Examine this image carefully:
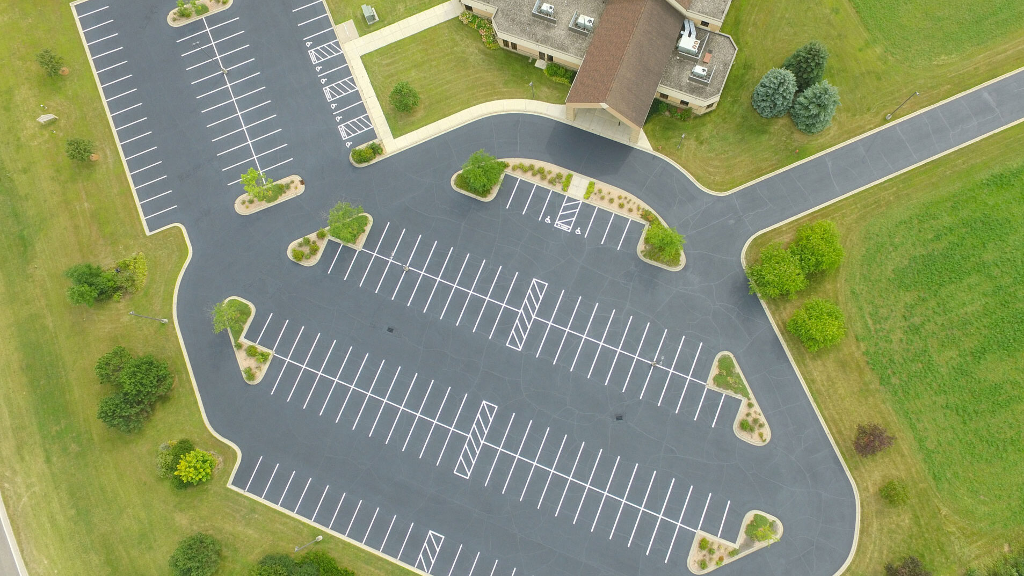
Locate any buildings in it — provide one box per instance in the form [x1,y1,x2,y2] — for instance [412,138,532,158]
[433,0,738,143]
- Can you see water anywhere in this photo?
No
